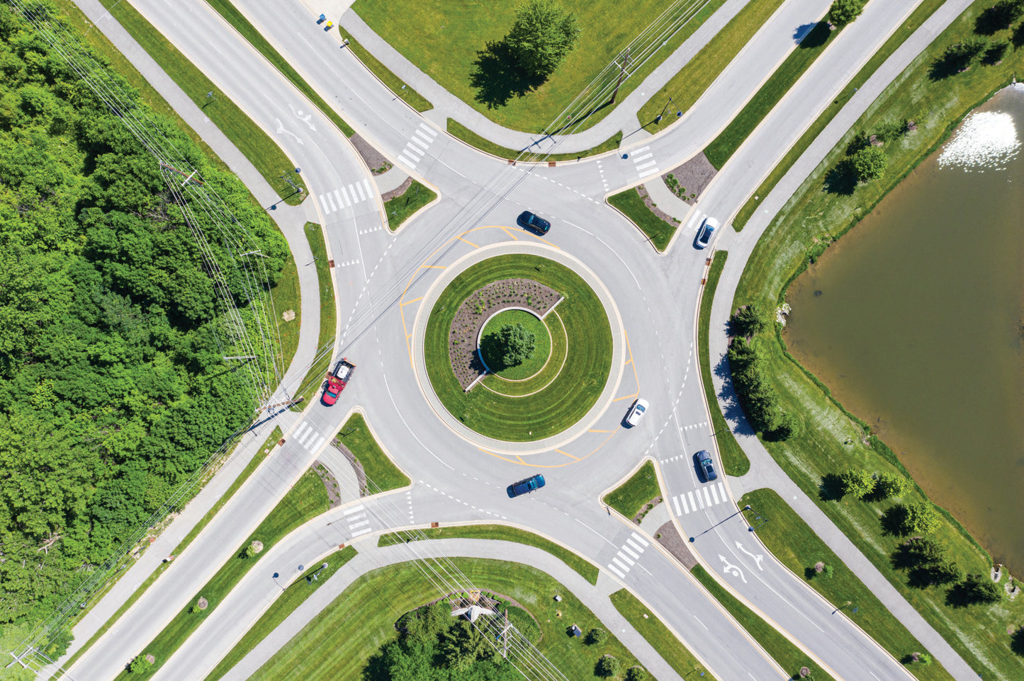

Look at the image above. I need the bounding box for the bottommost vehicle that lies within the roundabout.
[511,476,547,497]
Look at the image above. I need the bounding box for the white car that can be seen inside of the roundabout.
[627,398,650,427]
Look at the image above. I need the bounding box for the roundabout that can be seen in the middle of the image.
[366,195,672,501]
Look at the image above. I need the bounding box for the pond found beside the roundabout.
[787,89,1024,578]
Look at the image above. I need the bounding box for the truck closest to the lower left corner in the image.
[322,360,354,405]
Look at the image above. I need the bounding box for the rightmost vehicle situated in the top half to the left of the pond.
[697,216,719,248]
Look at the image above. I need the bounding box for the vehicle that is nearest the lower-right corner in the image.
[698,450,719,483]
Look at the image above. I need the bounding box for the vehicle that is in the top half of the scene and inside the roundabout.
[521,211,552,232]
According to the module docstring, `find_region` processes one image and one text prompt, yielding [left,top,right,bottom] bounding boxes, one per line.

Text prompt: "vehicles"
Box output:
[698,450,719,483]
[697,216,719,248]
[627,398,650,427]
[322,360,354,405]
[511,476,547,497]
[521,211,552,232]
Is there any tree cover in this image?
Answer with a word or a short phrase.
Yes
